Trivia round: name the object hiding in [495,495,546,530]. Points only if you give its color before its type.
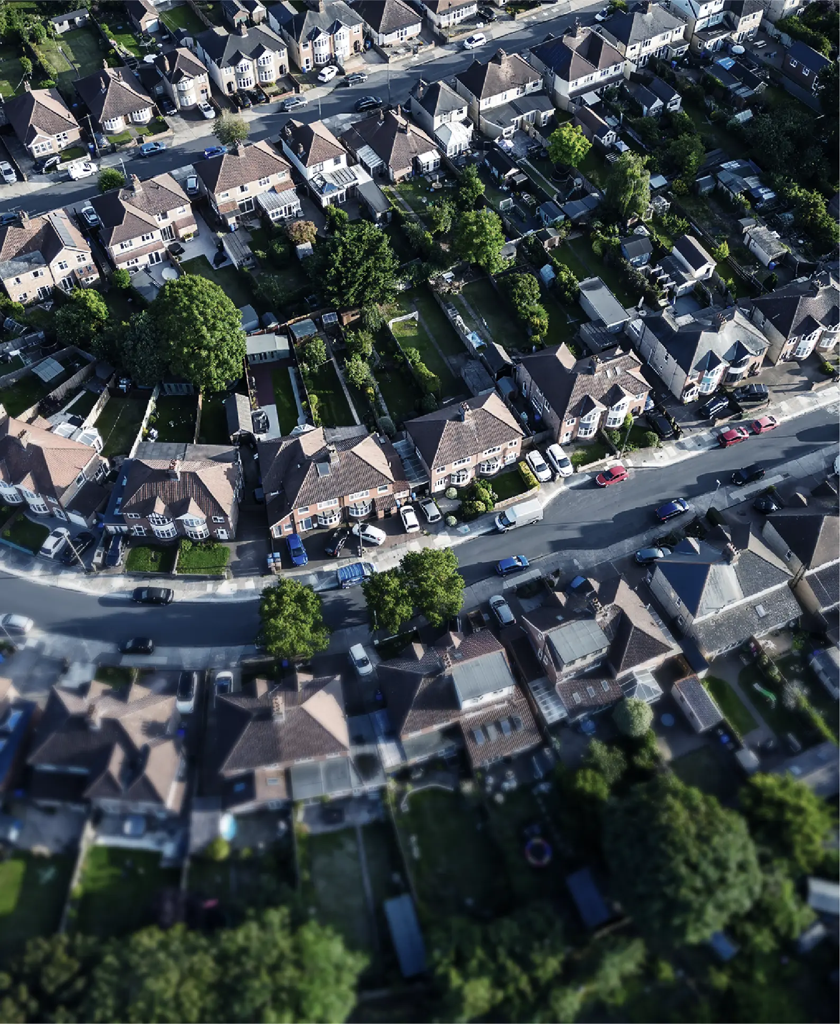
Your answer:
white van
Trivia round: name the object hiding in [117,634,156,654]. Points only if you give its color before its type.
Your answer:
black car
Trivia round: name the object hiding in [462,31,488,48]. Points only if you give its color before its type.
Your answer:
white car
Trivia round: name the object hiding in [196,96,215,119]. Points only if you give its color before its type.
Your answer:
white car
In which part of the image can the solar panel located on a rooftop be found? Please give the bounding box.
[545,39,576,69]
